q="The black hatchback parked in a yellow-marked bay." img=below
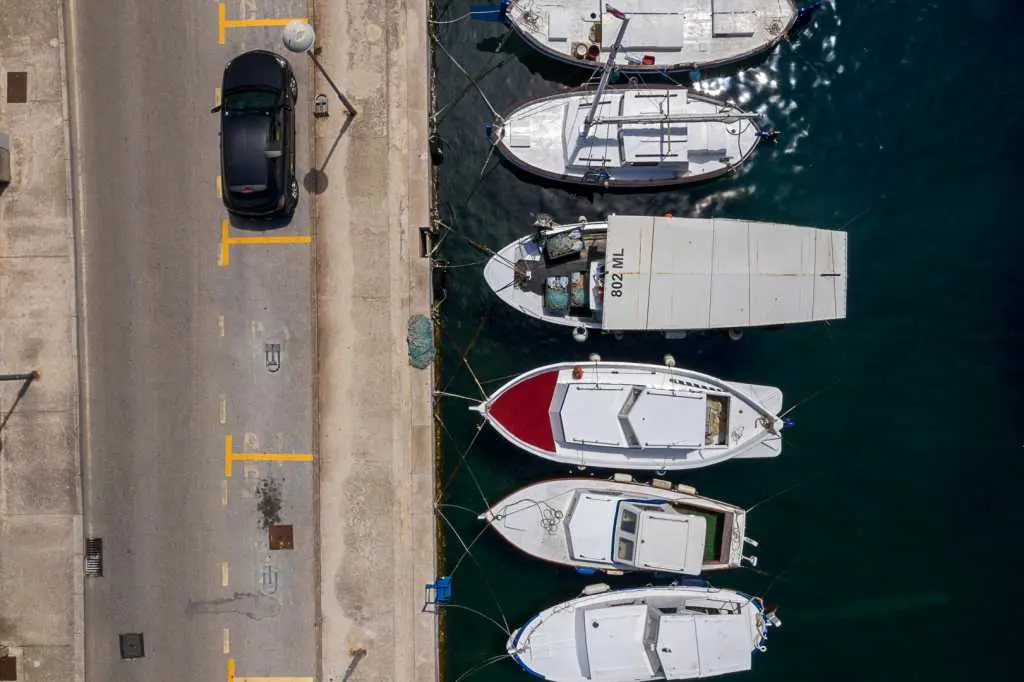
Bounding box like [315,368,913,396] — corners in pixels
[209,48,300,219]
